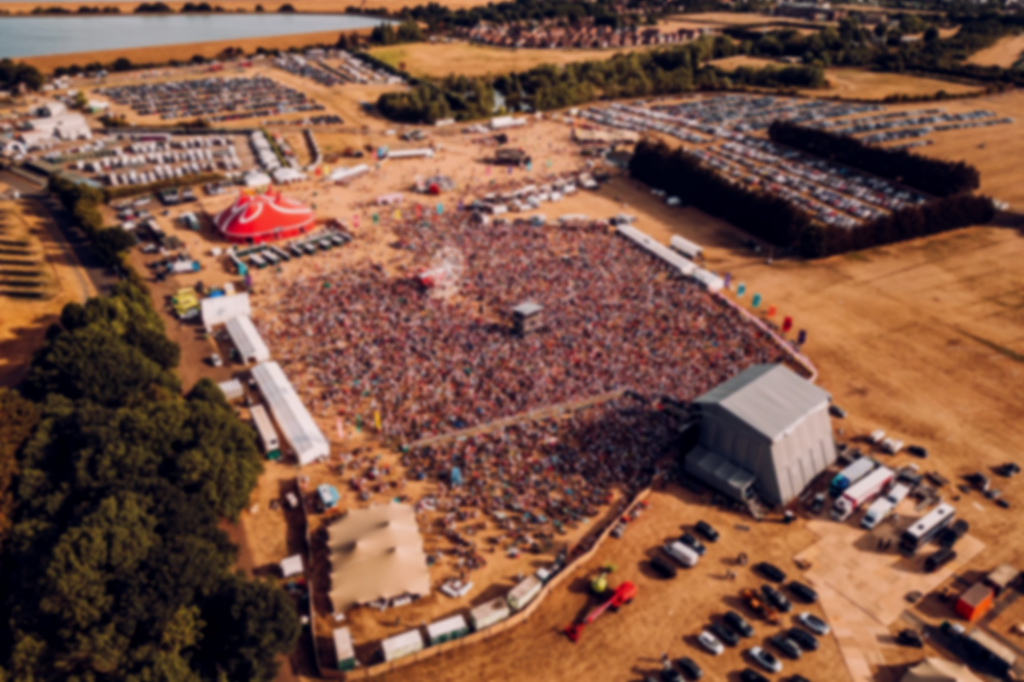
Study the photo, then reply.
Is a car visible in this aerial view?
Yes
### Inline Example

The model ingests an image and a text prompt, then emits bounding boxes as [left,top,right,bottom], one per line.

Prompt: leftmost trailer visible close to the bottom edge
[332,627,357,668]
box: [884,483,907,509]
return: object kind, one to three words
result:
vehicle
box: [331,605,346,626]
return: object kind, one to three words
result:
gazebo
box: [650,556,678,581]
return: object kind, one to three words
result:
car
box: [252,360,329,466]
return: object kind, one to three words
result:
tent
